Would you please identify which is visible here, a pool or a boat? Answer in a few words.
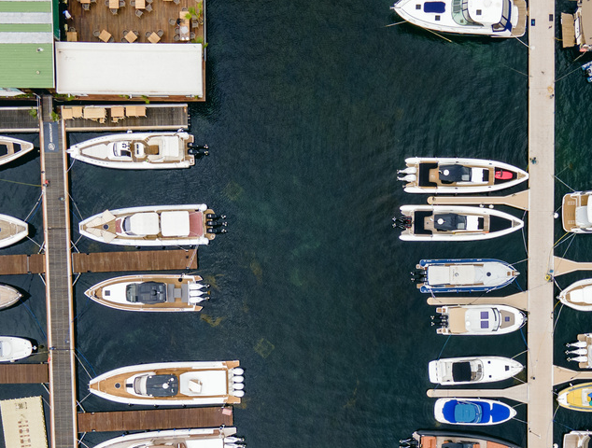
boat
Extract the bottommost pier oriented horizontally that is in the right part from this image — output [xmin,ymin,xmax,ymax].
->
[427,384,529,403]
